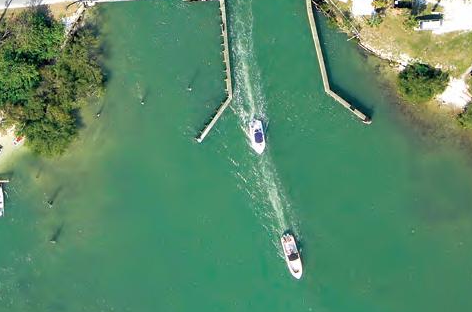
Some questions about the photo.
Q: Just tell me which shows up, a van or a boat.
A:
boat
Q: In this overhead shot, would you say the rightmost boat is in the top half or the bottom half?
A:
bottom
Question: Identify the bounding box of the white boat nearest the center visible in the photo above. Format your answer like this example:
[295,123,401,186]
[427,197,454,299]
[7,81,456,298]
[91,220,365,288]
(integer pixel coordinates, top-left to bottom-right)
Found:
[248,119,265,154]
